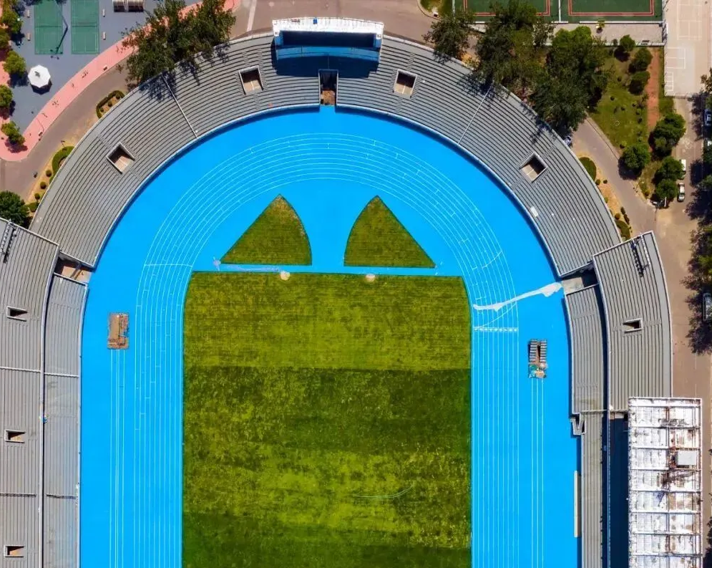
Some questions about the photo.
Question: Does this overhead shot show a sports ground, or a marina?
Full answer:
The picture captures a sports ground.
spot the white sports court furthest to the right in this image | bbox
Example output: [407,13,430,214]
[665,0,712,96]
